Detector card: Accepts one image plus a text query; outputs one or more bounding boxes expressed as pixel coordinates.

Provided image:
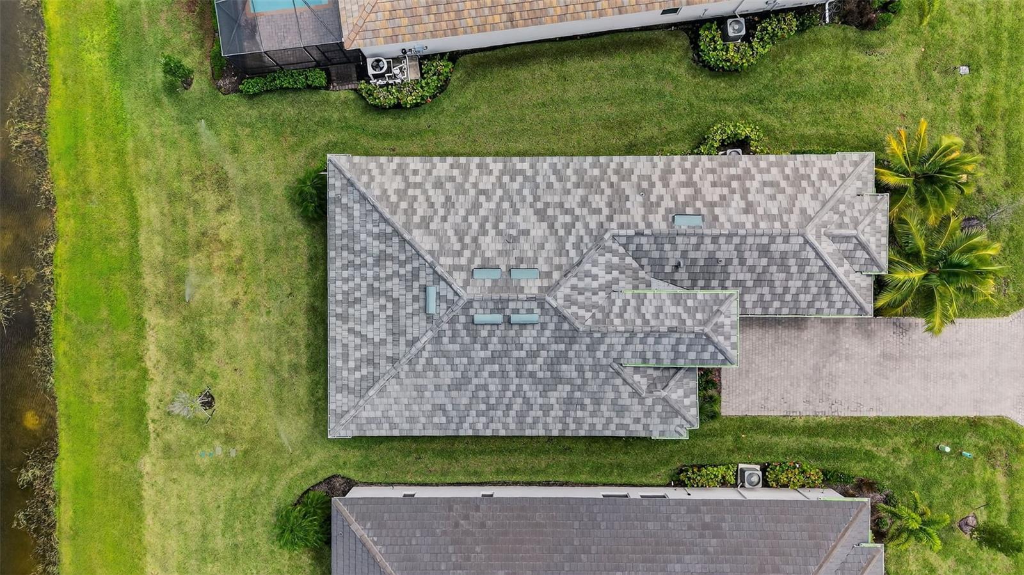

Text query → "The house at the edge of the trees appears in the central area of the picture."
[318,152,891,441]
